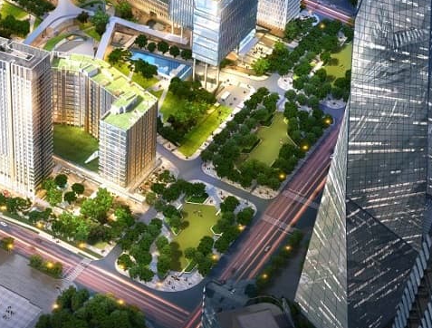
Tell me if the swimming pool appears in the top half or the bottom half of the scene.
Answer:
top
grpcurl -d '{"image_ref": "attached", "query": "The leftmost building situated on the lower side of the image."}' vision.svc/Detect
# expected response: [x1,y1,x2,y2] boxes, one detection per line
[203,274,293,328]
